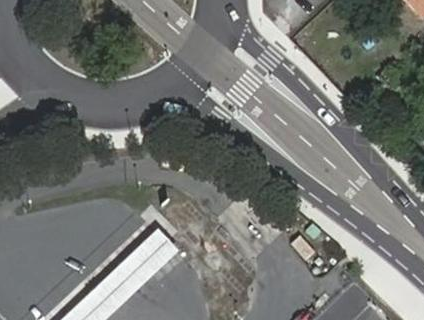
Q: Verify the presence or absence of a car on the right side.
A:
Yes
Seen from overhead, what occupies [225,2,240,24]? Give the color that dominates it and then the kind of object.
white car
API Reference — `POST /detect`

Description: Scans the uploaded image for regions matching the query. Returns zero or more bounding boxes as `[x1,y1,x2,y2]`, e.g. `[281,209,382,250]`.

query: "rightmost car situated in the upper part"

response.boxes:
[316,108,338,128]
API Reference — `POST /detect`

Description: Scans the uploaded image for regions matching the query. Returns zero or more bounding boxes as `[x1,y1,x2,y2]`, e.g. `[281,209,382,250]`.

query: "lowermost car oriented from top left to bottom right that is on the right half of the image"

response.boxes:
[246,222,263,240]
